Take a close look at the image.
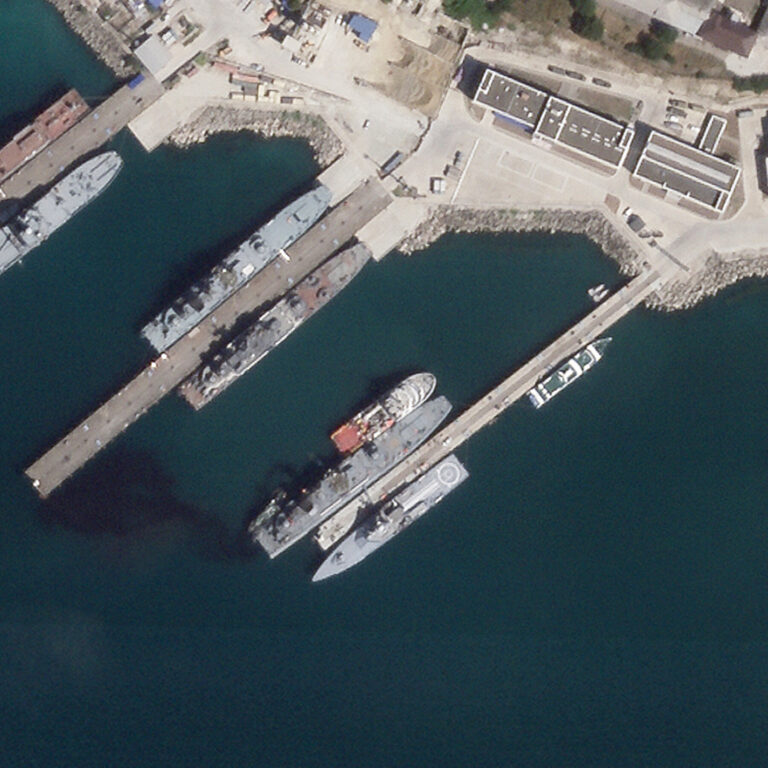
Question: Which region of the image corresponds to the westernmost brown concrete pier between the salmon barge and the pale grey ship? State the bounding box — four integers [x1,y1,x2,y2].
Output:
[0,68,164,220]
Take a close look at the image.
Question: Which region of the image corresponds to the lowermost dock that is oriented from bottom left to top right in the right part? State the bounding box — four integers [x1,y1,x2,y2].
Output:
[318,262,674,550]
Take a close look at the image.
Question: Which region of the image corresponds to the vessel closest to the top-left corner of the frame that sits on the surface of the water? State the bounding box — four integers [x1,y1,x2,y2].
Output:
[0,91,91,184]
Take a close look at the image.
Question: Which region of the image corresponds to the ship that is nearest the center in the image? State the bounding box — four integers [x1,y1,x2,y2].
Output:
[331,373,435,452]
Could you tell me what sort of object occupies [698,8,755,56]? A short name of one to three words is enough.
house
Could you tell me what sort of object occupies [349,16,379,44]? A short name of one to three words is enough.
building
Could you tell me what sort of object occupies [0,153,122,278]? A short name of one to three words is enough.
ship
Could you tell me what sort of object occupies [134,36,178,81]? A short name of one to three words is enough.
building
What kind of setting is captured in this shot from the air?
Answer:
port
